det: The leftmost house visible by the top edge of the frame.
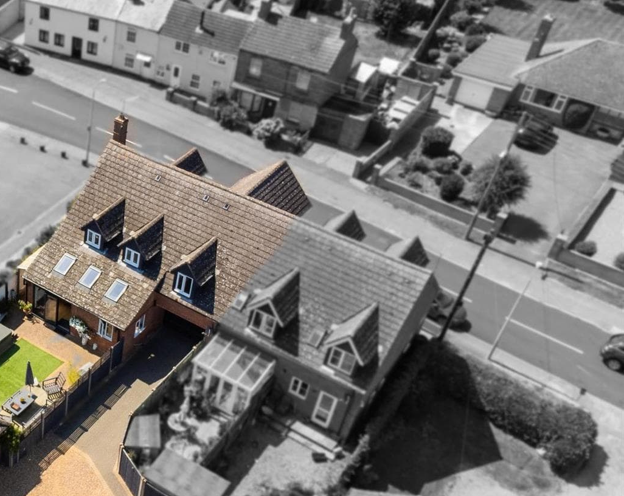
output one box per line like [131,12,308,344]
[26,0,124,68]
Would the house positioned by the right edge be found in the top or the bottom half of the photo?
top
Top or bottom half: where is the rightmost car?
bottom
